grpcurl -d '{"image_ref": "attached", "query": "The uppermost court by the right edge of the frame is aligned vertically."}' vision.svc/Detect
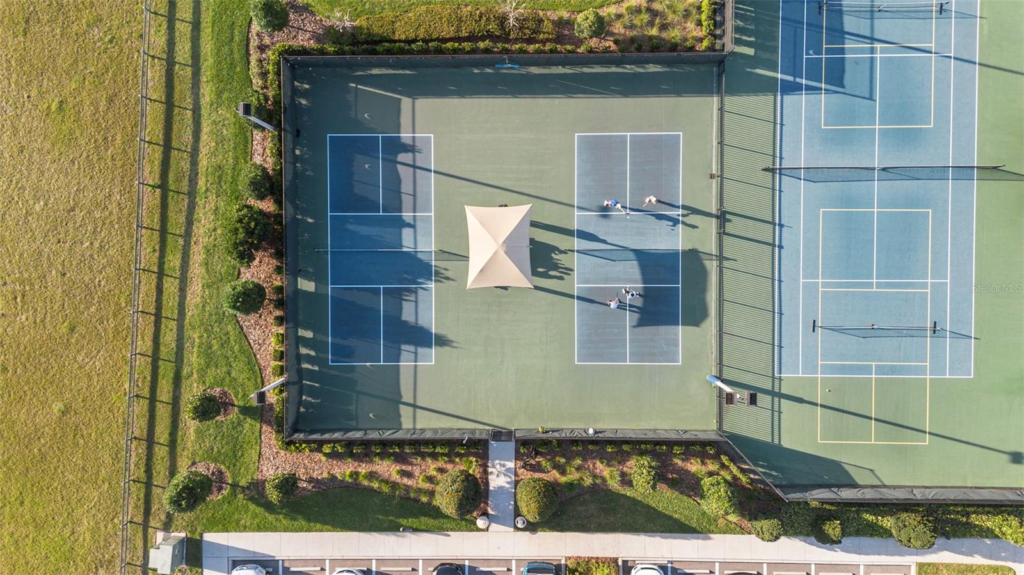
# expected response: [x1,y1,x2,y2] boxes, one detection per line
[776,0,980,444]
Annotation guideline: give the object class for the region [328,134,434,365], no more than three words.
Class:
sports court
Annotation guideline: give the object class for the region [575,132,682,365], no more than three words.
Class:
sports court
